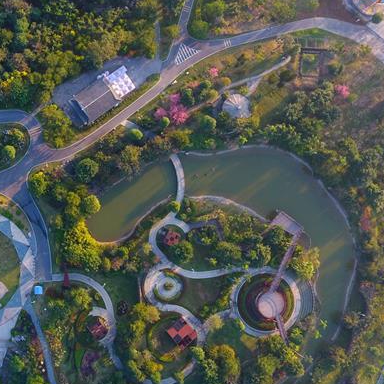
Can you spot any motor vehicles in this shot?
No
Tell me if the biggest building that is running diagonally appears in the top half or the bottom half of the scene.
top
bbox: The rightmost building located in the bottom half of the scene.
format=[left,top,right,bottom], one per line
[165,316,197,348]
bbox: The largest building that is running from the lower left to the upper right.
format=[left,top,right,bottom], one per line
[68,66,137,128]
